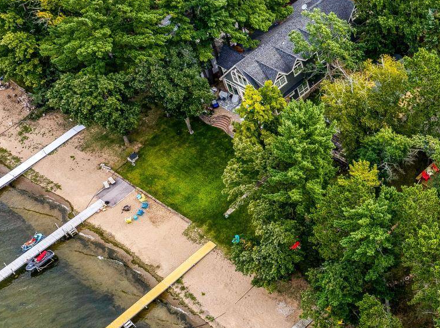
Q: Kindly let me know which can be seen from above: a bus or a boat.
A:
boat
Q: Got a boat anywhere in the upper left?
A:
No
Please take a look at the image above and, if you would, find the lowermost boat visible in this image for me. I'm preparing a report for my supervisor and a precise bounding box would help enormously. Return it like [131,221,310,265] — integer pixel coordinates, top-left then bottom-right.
[28,250,57,276]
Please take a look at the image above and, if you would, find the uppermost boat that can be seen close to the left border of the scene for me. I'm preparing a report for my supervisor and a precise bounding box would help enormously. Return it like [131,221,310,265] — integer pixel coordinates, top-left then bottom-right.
[19,232,46,251]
